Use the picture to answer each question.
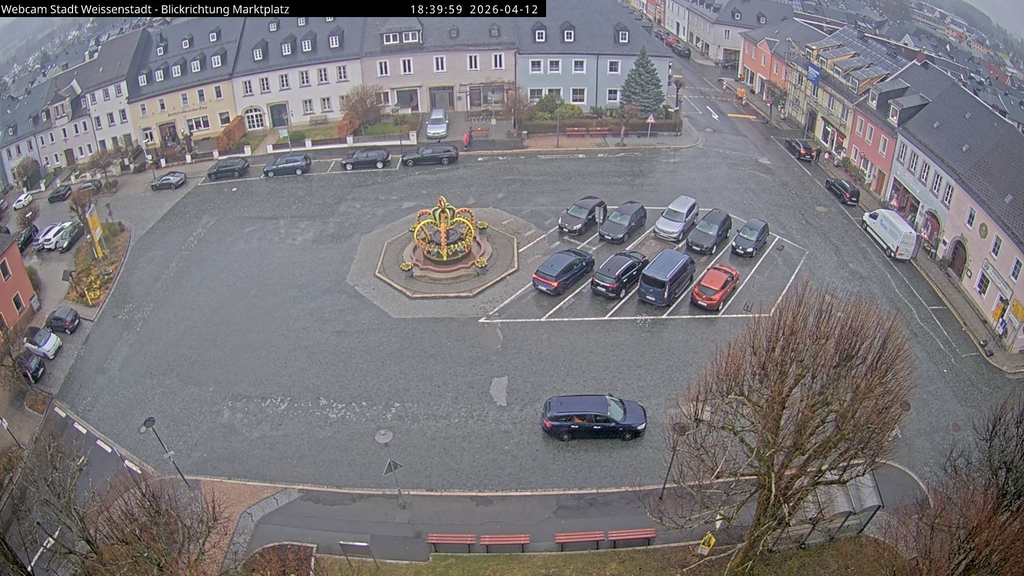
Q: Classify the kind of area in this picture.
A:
residential area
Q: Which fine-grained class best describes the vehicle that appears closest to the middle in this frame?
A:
car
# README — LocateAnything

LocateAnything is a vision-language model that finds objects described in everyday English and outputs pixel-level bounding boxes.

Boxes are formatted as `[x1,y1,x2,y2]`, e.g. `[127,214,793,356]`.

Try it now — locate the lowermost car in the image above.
[540,398,649,450]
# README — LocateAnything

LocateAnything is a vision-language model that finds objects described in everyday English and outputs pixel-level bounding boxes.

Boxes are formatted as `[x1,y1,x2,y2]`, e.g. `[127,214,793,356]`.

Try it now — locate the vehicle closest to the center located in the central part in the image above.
[527,245,601,300]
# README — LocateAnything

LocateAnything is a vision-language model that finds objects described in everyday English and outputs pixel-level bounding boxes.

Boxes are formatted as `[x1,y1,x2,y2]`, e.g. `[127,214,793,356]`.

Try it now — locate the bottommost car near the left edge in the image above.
[16,351,51,391]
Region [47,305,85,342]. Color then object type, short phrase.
gray car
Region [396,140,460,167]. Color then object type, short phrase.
gray car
